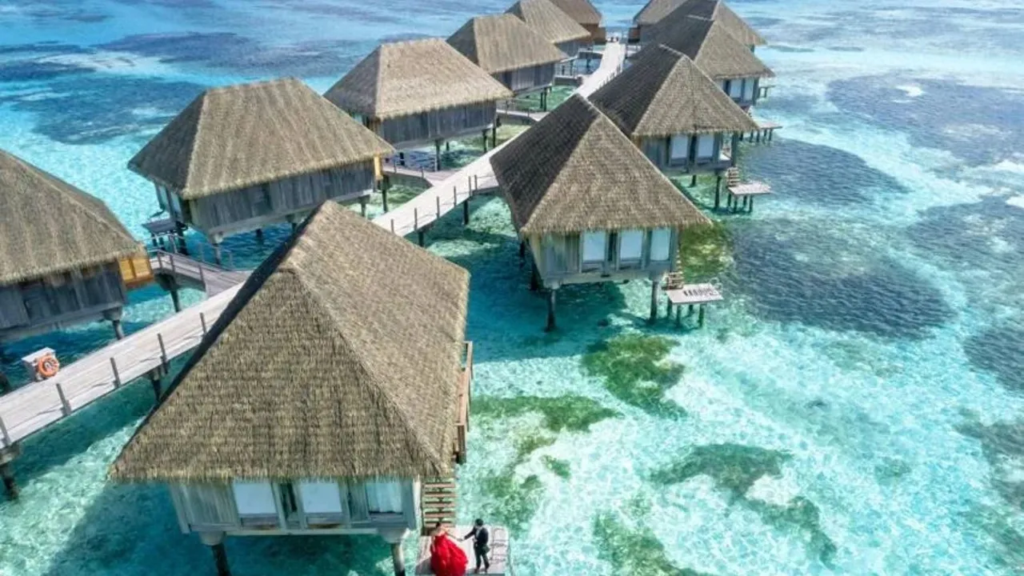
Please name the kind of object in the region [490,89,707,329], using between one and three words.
house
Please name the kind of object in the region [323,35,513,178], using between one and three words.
house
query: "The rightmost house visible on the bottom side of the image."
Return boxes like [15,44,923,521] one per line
[110,199,477,576]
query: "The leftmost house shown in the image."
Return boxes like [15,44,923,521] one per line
[0,143,156,391]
